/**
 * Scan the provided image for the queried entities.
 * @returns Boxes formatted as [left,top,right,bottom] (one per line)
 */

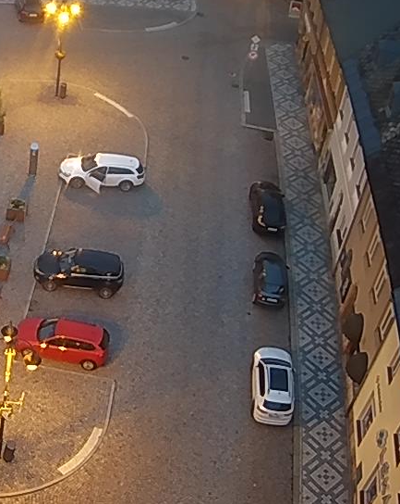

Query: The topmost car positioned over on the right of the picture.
[245,178,289,239]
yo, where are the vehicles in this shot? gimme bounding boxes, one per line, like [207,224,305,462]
[246,338,299,431]
[245,178,289,239]
[245,242,292,309]
[10,313,112,371]
[18,0,45,21]
[58,152,148,198]
[32,247,129,300]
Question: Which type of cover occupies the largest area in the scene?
paved ground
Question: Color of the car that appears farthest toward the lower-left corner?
red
